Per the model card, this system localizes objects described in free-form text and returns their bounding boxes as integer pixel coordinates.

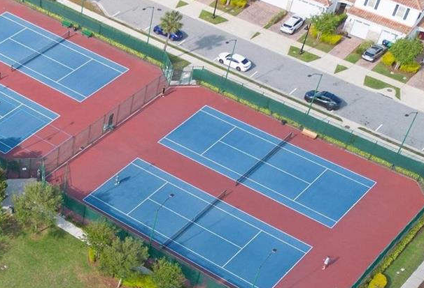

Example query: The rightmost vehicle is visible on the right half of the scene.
[362,46,386,64]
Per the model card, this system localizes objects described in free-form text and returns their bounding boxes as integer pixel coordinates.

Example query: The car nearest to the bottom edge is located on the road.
[306,86,344,107]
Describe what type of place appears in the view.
sports ground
